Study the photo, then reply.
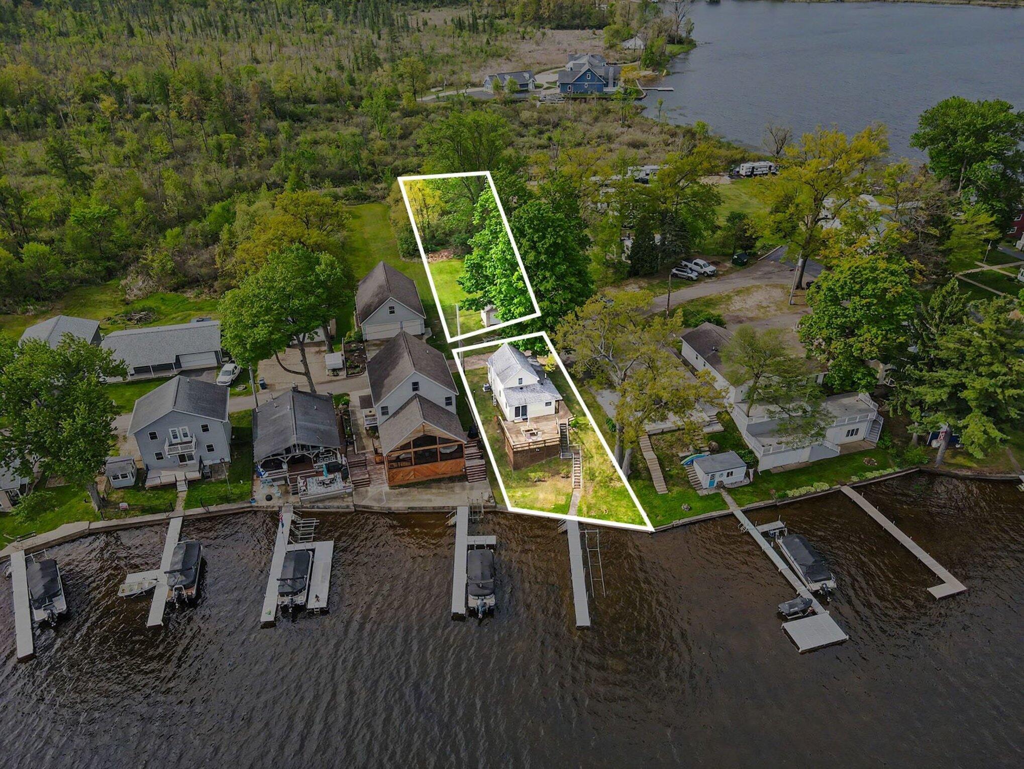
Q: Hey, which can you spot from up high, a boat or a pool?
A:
boat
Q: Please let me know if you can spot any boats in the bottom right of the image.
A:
Yes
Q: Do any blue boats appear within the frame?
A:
No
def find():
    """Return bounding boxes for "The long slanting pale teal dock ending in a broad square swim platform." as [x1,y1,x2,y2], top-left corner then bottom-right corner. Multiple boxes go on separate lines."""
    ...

[732,511,850,656]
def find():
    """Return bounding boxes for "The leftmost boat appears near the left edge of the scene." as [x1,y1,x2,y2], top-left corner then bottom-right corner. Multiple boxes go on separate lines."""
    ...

[27,551,67,628]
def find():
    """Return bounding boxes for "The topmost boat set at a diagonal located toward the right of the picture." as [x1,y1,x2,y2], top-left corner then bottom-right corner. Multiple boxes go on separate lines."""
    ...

[779,535,836,601]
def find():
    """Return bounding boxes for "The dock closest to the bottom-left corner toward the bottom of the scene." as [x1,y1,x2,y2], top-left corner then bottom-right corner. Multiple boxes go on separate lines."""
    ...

[9,550,36,661]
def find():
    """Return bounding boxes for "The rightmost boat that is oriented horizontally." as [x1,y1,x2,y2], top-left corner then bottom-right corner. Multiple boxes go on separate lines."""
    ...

[777,597,813,614]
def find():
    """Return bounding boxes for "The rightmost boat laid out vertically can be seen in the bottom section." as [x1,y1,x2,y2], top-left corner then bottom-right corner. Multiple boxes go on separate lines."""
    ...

[465,547,495,619]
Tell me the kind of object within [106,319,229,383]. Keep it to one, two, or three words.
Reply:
barn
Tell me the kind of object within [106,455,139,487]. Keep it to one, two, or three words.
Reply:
shed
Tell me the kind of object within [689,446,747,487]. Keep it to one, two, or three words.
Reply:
building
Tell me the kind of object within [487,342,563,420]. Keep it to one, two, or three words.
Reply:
house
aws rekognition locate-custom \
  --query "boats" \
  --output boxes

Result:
[166,541,205,609]
[27,551,67,628]
[118,577,156,595]
[777,597,813,614]
[465,547,495,619]
[779,535,836,601]
[277,549,313,616]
